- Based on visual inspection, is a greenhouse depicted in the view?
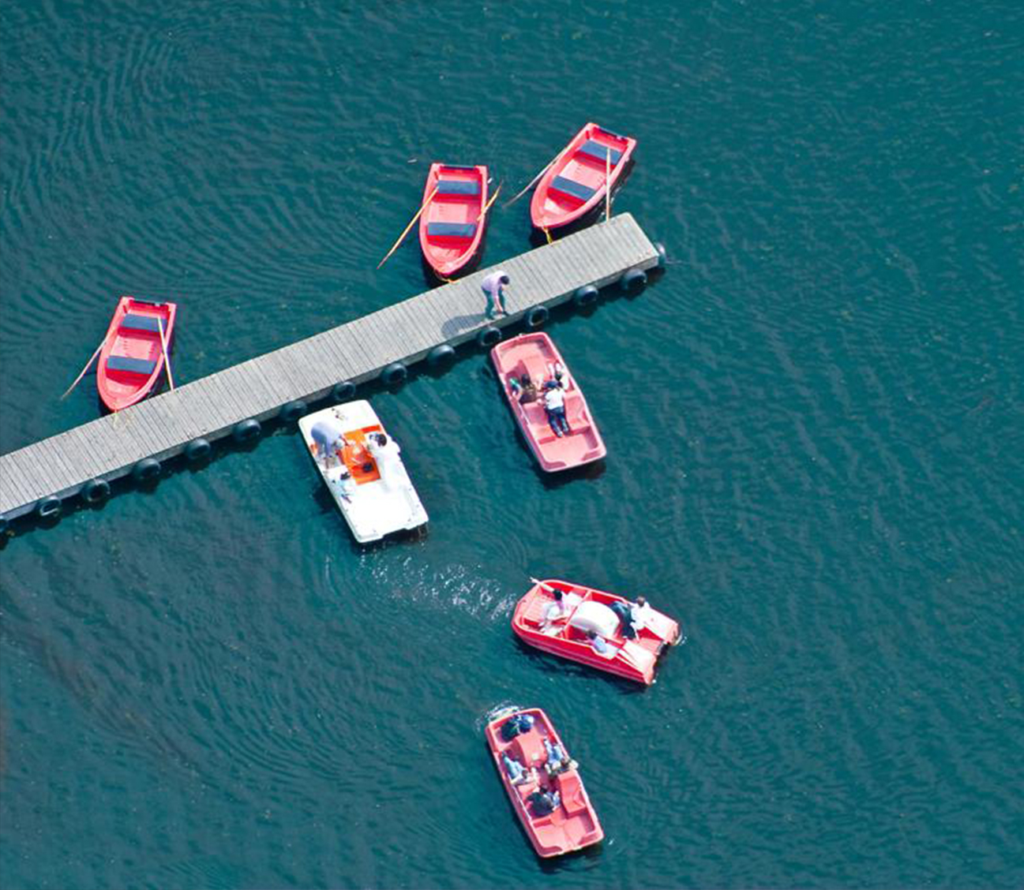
No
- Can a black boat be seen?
No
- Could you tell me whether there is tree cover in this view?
No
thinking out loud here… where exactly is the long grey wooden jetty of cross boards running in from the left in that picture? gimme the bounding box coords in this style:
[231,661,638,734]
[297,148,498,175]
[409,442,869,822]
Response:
[0,211,658,522]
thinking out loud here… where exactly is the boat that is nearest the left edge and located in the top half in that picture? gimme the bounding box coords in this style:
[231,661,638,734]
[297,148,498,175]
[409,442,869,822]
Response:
[94,298,176,413]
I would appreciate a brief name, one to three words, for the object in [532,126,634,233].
boat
